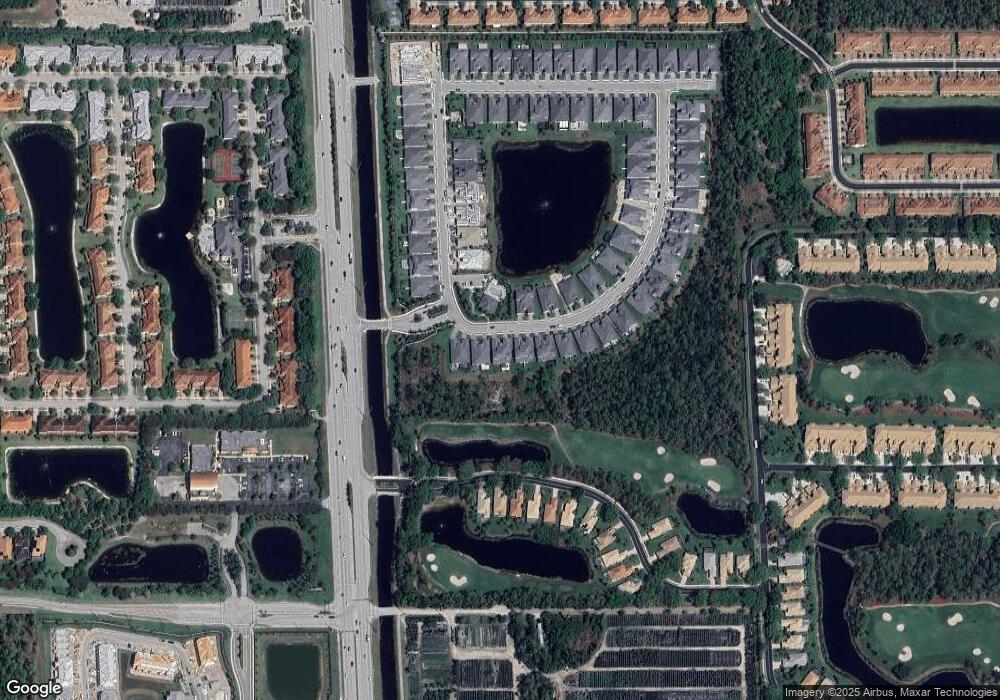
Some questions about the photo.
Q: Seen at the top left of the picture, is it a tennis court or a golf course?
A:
tennis court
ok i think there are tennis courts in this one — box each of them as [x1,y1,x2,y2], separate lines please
[213,148,243,181]
[223,306,252,336]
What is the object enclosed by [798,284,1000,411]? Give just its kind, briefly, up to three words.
golf course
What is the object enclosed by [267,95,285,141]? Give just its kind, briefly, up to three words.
building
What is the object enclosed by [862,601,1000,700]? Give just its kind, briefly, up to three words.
golf course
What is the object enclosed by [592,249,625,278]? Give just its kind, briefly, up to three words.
house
